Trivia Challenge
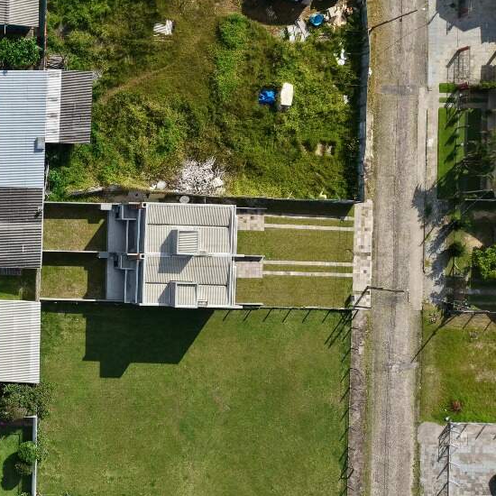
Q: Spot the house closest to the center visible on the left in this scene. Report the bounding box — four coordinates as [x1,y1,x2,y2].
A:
[96,204,269,309]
